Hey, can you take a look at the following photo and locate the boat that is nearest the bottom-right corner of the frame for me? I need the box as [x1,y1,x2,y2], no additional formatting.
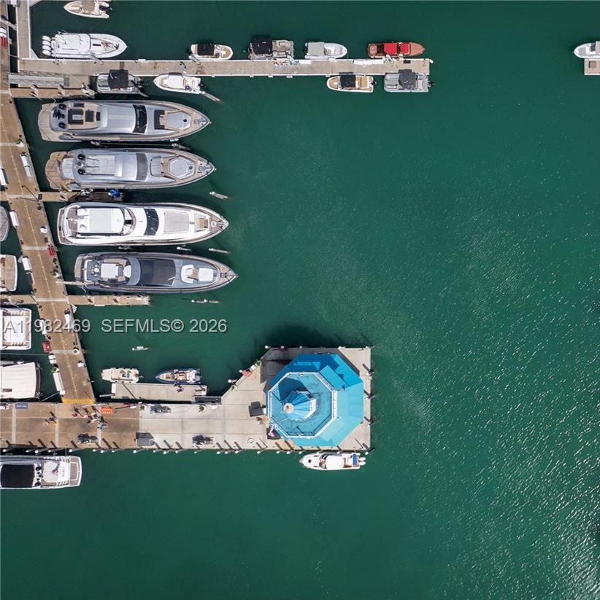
[299,453,368,470]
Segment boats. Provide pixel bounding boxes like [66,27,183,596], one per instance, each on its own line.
[64,0,111,19]
[368,42,424,57]
[43,32,129,59]
[63,254,237,295]
[154,74,209,94]
[39,102,210,144]
[302,42,348,58]
[299,453,368,470]
[0,308,34,350]
[155,368,201,384]
[384,74,435,92]
[574,41,600,58]
[58,204,229,248]
[327,75,380,92]
[97,70,148,95]
[186,43,234,59]
[246,39,295,59]
[0,454,82,490]
[0,254,19,291]
[102,367,148,383]
[46,149,216,190]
